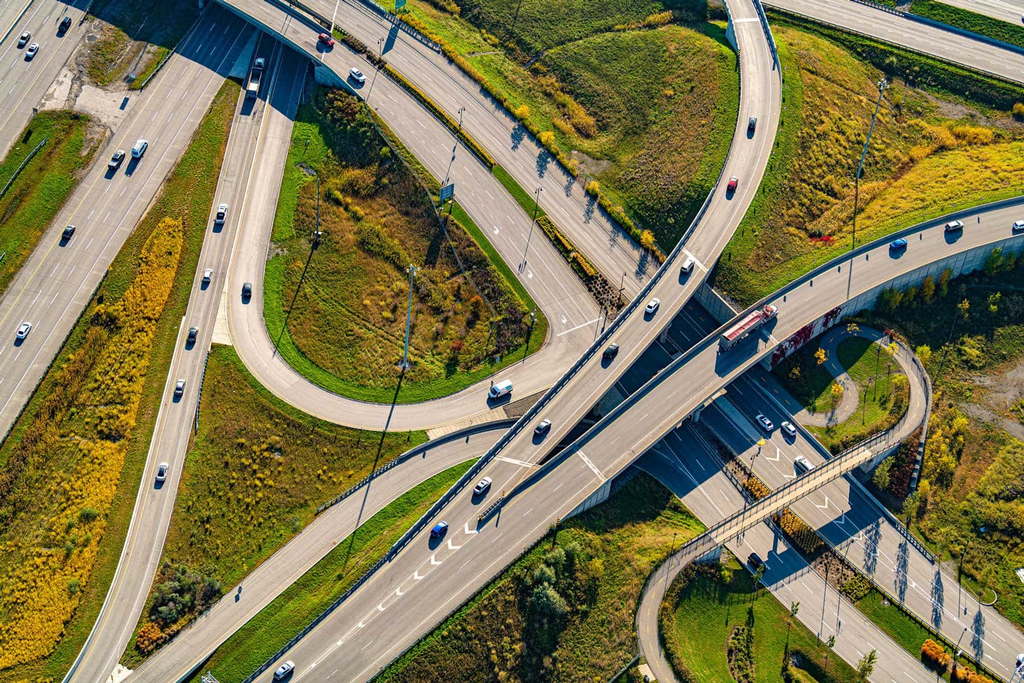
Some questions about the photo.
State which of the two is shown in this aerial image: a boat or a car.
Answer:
car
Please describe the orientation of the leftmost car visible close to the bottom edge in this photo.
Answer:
at an angle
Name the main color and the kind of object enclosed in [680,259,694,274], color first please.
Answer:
white car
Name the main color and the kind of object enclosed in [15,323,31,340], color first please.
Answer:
white car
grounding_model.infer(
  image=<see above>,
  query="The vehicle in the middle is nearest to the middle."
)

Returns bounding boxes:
[488,380,514,401]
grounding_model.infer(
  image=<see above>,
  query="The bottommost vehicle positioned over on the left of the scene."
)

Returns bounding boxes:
[272,661,295,681]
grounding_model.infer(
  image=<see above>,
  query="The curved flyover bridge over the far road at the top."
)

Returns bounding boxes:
[721,0,768,26]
